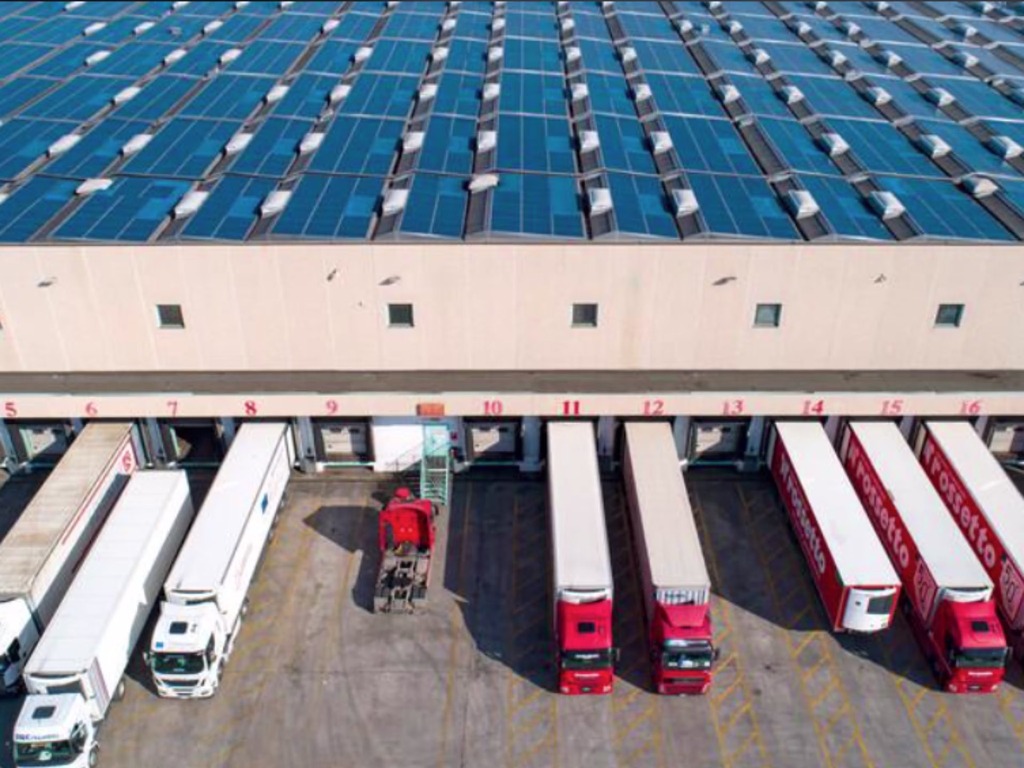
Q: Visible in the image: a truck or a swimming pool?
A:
truck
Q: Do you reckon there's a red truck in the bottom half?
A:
Yes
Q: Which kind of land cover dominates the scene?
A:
buildings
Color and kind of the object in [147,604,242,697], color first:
white truck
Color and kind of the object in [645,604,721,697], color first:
red truck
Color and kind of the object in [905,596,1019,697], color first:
red truck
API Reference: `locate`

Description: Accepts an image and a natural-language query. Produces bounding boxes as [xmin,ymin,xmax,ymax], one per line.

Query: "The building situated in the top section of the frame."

[0,0,1024,479]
